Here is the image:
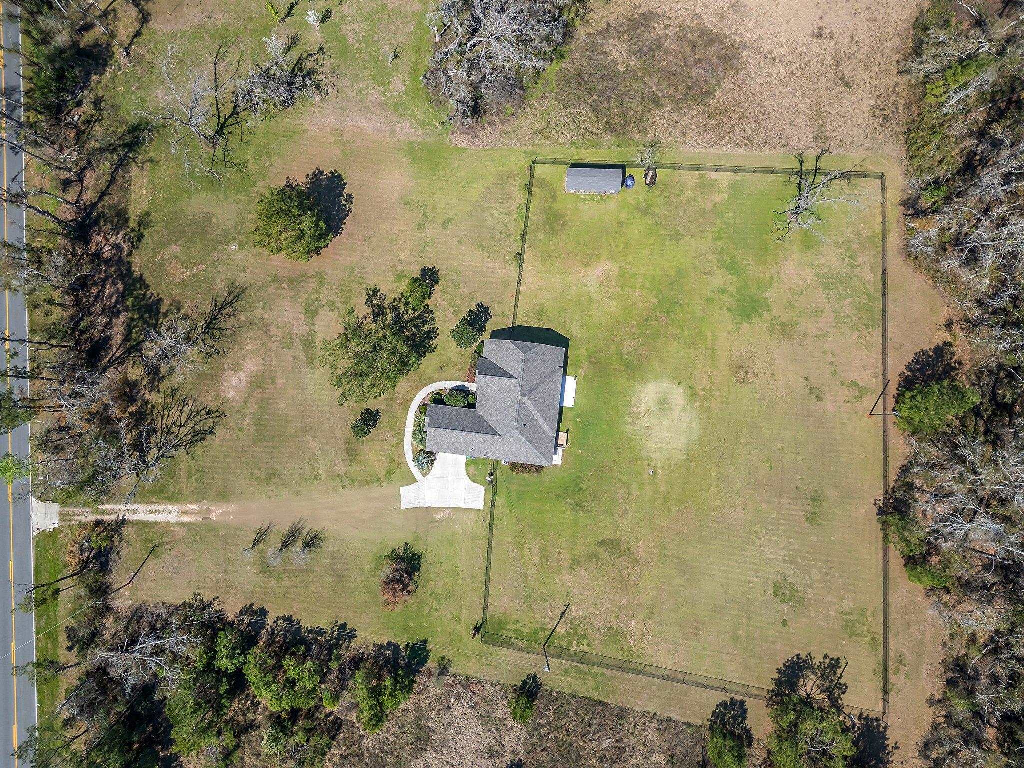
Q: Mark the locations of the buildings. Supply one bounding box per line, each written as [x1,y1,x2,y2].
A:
[425,340,565,466]
[567,167,623,198]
